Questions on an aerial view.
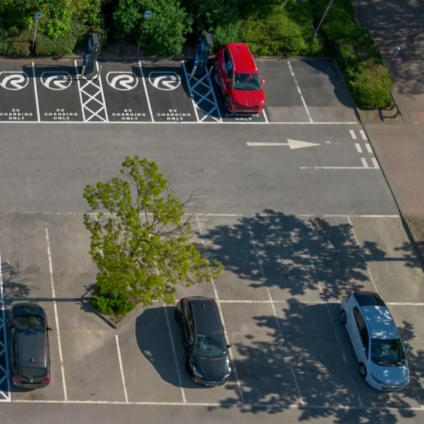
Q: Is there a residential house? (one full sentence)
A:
No, this view has no residential house in it.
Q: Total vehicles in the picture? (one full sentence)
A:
My tally gives 4 vehicles in this view.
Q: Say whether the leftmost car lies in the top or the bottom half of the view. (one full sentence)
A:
You can find the leftmost car in the bottom half.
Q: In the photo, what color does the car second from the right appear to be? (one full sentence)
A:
From above, the car second from the right appears red.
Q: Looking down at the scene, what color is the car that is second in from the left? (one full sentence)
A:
The car that is second in from the left is black.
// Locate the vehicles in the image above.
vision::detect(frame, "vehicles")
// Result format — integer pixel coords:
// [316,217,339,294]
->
[5,302,57,397]
[218,42,270,108]
[345,297,422,392]
[179,297,241,389]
